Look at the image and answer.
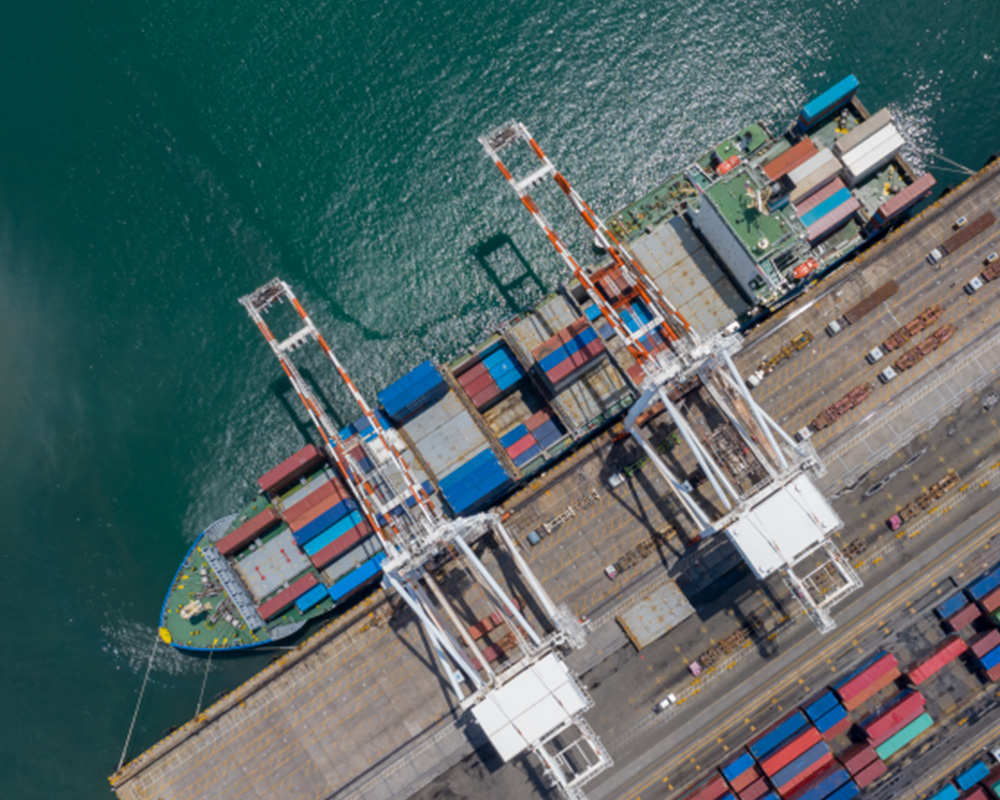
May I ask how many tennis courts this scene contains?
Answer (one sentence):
The photo contains no tennis courts.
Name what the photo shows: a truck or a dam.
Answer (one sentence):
There is a truck in the scene.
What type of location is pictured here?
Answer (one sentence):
What you see here is a port.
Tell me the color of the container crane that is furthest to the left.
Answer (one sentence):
The color of the container crane that is furthest to the left is white.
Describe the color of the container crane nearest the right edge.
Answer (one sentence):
The color of the container crane nearest the right edge is white.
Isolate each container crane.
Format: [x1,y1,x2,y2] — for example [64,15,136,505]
[238,274,618,800]
[474,112,870,636]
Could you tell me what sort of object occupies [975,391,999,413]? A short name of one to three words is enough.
car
